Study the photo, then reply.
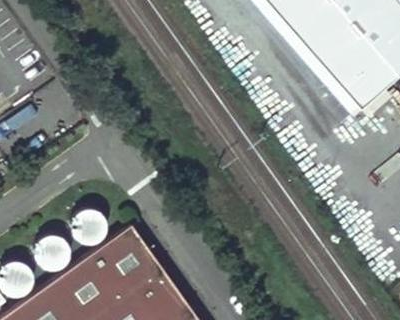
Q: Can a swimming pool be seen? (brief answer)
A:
No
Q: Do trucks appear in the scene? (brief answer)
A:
Yes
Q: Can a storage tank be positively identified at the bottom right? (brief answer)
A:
No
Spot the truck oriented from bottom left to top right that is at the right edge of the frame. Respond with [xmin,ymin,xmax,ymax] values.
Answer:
[367,154,400,188]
